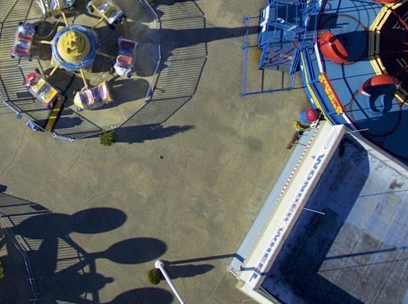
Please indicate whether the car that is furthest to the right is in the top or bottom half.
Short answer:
top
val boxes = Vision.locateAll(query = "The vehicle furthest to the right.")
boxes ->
[114,41,137,75]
